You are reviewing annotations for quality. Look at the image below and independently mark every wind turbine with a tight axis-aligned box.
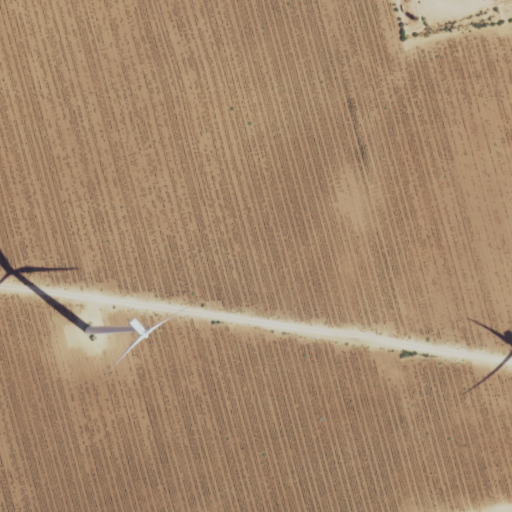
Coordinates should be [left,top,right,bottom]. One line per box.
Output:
[84,306,189,376]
